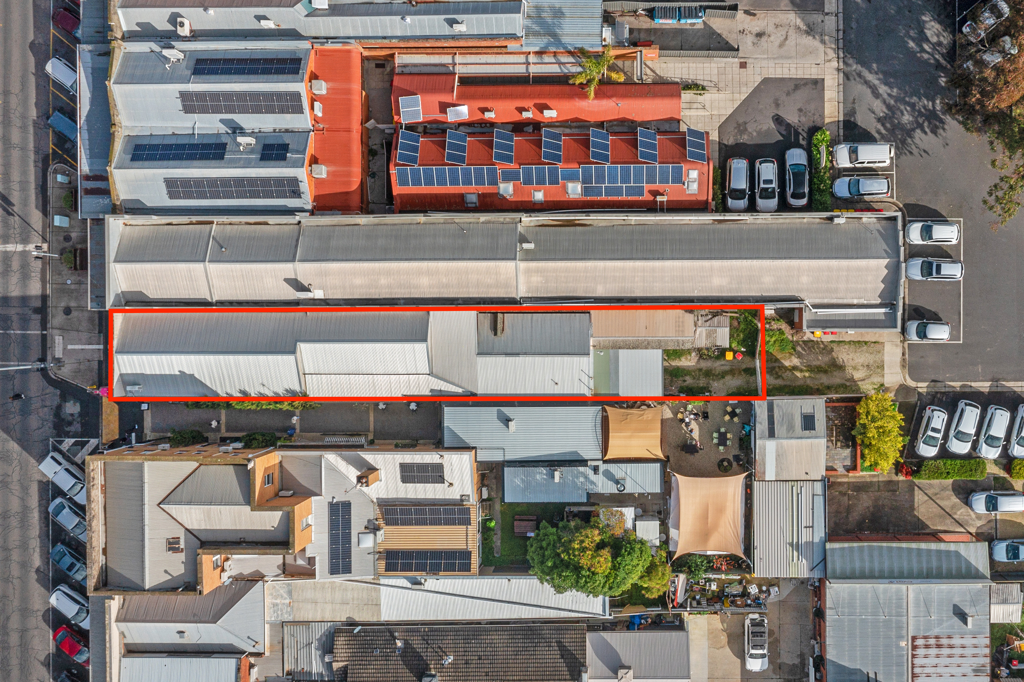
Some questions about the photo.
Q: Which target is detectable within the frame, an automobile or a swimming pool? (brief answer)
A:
automobile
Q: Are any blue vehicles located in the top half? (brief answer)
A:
Yes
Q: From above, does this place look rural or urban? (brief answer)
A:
urban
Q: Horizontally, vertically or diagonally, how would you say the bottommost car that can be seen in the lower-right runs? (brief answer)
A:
vertically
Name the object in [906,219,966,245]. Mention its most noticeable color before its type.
white car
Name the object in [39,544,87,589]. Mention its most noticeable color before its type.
blue car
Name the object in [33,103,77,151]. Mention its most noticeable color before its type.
blue car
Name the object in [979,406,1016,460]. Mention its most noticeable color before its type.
white car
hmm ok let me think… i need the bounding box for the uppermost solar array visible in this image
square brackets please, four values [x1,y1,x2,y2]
[192,56,301,73]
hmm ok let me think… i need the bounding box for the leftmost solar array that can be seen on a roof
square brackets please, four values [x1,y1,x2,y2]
[130,141,227,159]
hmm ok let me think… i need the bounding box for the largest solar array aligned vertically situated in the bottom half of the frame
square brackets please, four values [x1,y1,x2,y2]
[328,503,351,576]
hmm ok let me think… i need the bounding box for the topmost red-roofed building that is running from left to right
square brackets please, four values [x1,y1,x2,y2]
[393,74,683,132]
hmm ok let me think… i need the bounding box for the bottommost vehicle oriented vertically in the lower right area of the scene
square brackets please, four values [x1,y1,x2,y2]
[745,616,774,677]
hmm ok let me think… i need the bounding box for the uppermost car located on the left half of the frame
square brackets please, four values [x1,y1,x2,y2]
[44,2,97,44]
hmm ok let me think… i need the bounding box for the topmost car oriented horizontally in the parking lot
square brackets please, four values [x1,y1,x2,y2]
[835,140,902,168]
